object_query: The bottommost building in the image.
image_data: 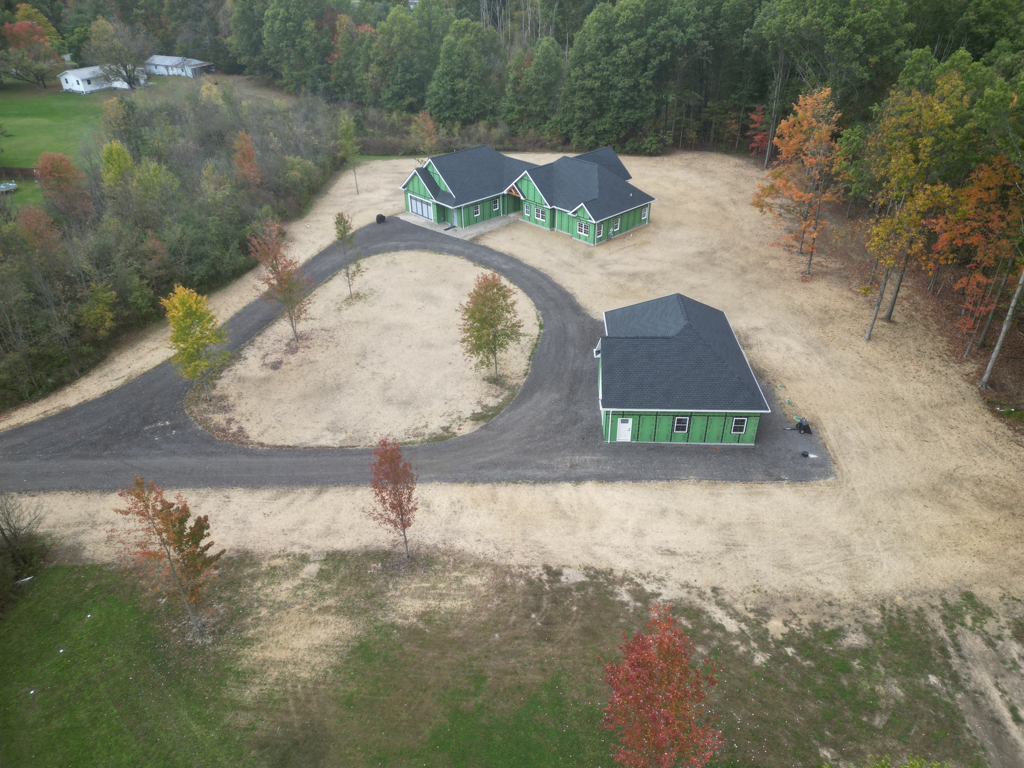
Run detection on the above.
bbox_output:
[596,293,771,445]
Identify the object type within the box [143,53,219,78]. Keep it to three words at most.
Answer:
barn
